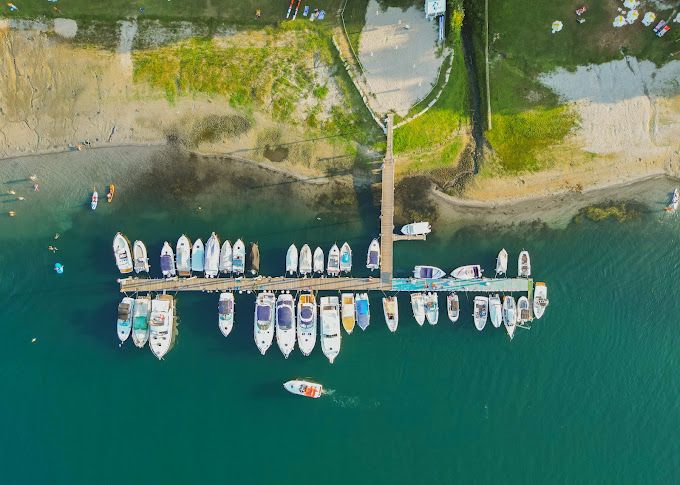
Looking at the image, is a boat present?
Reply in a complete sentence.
Yes, you can see a boat in this photo.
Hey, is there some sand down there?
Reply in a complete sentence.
Yes, there is sand in the image.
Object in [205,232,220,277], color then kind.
white boat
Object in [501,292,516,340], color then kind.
white boat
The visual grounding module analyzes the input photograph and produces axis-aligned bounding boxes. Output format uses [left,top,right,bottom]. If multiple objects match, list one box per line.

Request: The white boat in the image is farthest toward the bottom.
[282,379,323,397]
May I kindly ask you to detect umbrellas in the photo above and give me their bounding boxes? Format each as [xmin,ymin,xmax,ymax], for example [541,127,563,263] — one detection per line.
[624,9,639,22]
[550,21,562,33]
[622,0,637,10]
[639,12,654,25]
[610,15,625,29]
